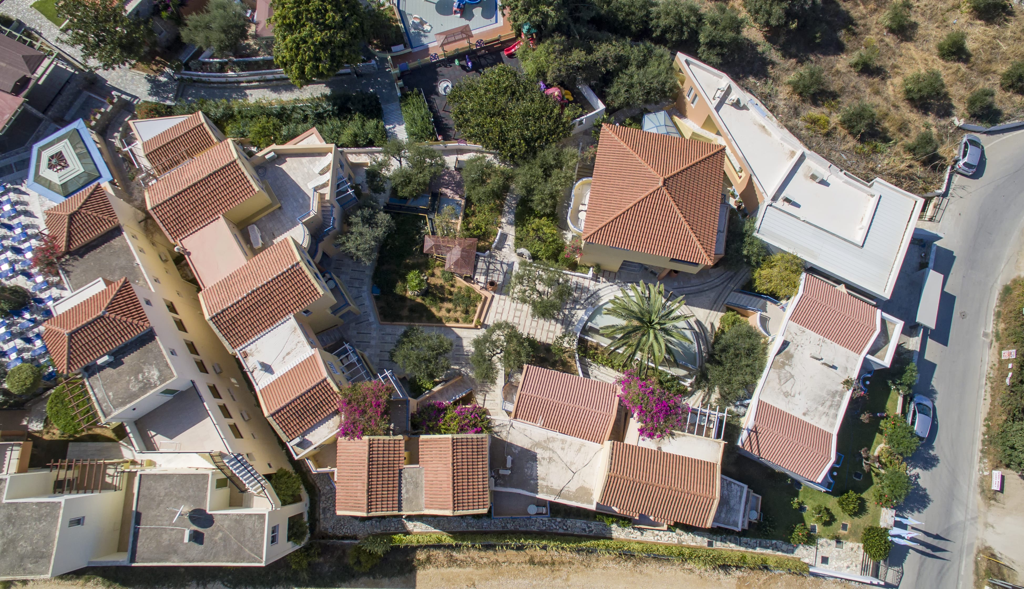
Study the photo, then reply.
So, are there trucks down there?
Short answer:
No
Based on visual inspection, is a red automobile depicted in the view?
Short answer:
No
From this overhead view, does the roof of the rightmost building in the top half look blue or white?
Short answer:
white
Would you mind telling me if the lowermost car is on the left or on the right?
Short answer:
right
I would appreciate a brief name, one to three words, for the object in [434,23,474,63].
gazebo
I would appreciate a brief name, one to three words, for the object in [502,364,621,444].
house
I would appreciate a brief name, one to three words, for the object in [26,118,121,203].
building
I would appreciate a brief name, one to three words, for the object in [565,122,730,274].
house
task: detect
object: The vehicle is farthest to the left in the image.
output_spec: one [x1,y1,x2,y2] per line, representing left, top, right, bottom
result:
[905,395,934,442]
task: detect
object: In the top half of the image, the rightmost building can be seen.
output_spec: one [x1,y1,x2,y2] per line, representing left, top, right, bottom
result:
[674,52,925,304]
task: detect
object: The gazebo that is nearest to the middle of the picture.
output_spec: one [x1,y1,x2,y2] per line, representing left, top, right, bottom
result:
[423,235,479,283]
